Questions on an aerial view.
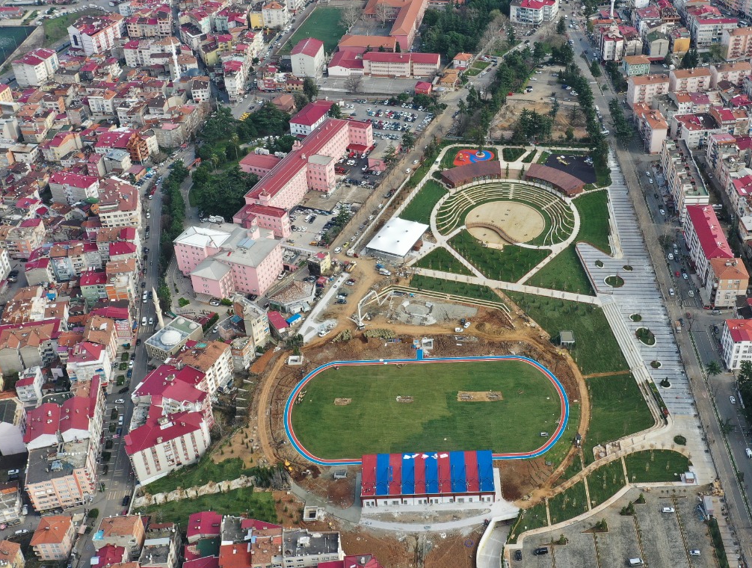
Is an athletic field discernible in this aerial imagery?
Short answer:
Yes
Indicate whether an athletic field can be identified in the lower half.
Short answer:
Yes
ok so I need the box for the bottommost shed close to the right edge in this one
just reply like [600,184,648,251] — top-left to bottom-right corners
[702,494,716,520]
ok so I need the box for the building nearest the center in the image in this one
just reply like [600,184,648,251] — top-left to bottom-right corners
[307,248,332,276]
